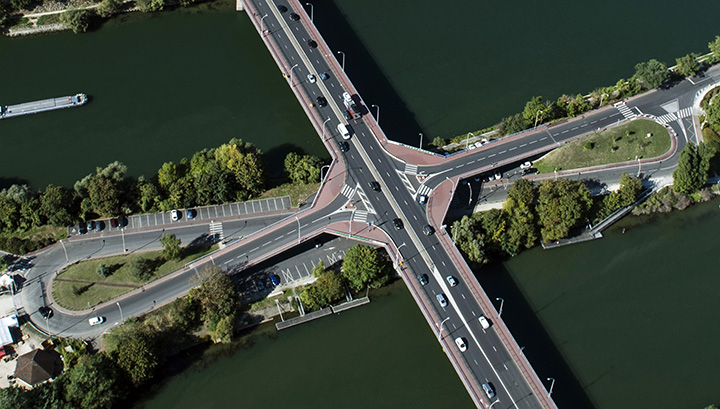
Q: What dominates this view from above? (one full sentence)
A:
For the most part, this view shows water.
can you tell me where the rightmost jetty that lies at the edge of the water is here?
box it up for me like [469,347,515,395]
[541,190,653,250]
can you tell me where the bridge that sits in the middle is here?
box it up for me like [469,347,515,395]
[240,0,560,409]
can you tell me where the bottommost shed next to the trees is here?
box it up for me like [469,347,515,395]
[14,349,53,387]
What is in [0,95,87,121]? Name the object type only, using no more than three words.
ship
